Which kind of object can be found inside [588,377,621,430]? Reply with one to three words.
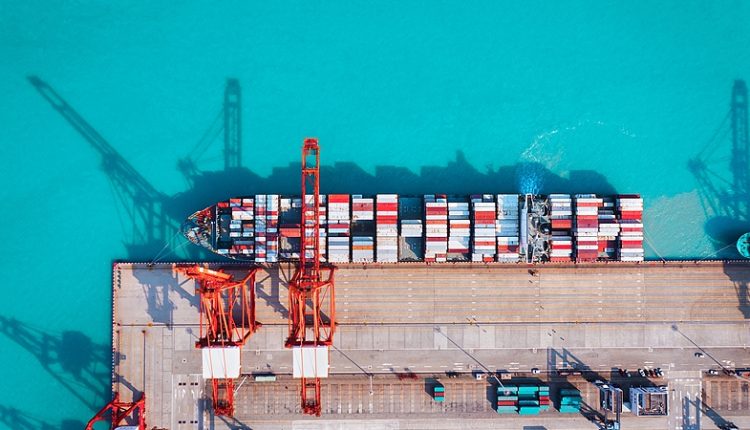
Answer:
container crane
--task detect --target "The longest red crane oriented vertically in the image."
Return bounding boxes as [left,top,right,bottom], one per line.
[286,136,343,416]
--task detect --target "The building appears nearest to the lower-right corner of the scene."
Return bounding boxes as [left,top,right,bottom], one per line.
[630,381,669,415]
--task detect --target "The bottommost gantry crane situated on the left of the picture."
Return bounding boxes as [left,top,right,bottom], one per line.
[78,391,168,430]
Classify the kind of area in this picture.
port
